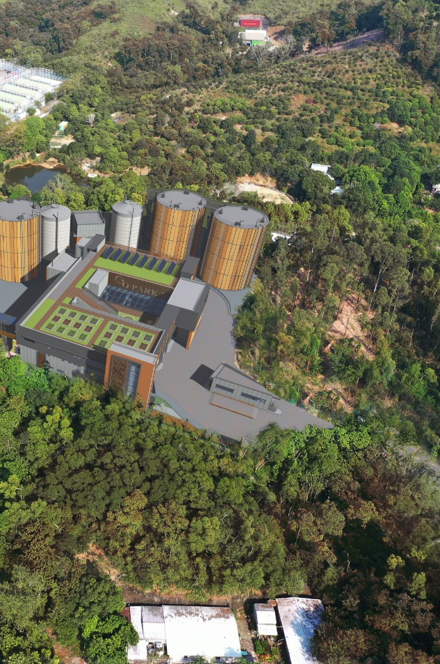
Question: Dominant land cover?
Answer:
trees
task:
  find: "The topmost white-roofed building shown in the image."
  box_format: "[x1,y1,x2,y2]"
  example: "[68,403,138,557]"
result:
[240,29,266,48]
